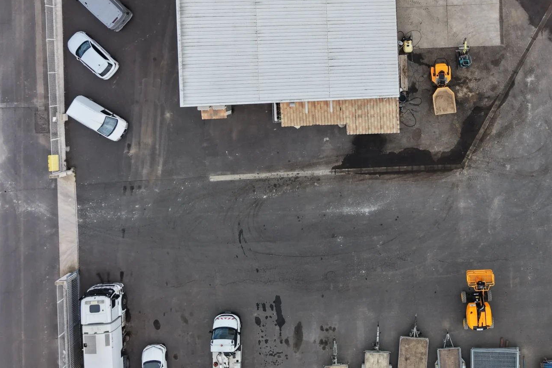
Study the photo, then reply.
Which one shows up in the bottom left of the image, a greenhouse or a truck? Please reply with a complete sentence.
It is a truck that can be seen in the bottom left of the image.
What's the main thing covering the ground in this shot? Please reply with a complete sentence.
The scene is dominated by paved ground.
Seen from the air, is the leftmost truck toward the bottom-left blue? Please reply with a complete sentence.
No, the leftmost truck toward the bottom-left is actually white.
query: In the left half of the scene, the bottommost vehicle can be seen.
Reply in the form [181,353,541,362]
[141,342,166,368]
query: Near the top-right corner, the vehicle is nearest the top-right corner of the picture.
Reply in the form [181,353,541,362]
[456,38,471,69]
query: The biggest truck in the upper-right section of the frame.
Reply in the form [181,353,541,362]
[428,61,457,116]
